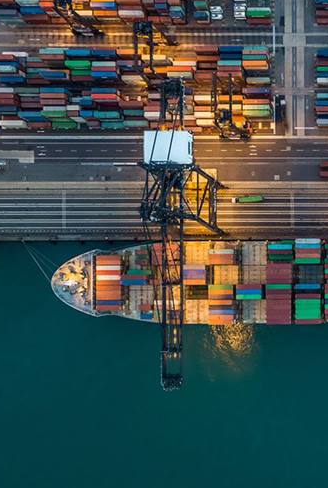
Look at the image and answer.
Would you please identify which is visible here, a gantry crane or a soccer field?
gantry crane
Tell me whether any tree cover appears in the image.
No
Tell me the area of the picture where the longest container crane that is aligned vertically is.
center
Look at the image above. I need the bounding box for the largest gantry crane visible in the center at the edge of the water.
[134,77,228,390]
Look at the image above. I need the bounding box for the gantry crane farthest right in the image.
[212,75,246,135]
